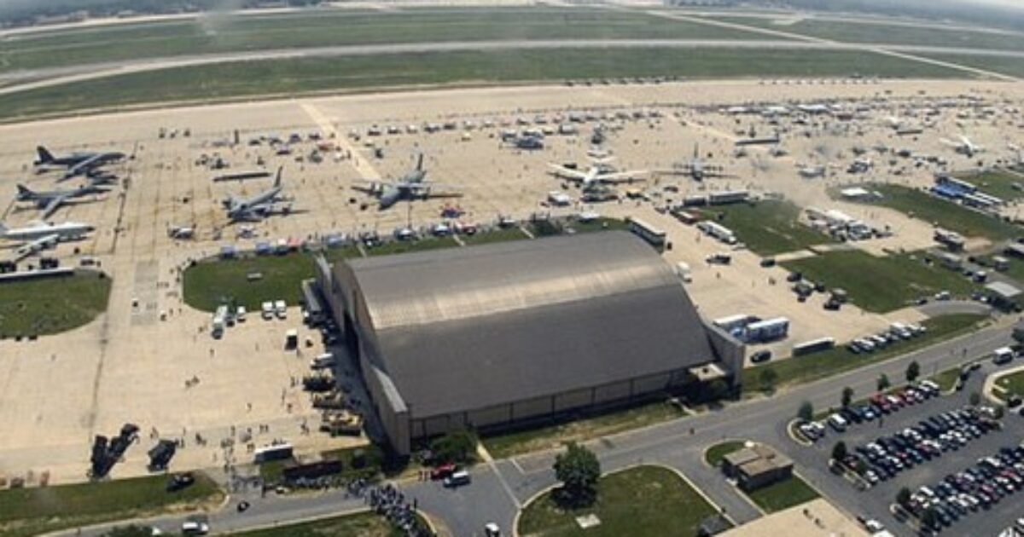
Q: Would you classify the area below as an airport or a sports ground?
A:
airport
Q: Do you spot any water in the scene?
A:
No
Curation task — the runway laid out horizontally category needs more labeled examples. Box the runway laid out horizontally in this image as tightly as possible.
[0,39,1024,82]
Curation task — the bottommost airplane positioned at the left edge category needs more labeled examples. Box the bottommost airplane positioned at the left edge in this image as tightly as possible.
[0,213,105,248]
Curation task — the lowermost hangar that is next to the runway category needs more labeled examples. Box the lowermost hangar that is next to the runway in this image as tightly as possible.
[313,231,748,457]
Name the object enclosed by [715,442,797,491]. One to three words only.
building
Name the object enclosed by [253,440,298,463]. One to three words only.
trailer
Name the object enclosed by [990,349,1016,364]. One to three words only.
vehicle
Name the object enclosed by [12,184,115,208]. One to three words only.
airplane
